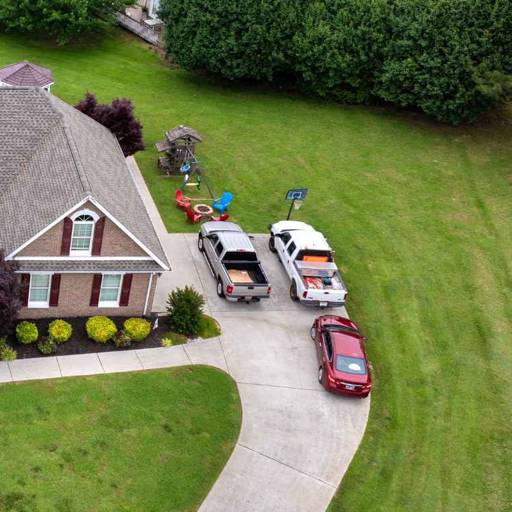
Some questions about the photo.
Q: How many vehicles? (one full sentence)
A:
My tally gives 3 vehicles in this view.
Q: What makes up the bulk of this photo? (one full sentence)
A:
The bulk of the photo consists of grass.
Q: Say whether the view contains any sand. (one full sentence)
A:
No, the scene doesn't show any sand.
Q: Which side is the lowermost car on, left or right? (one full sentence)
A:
The lowermost car appears in the right half of the scene.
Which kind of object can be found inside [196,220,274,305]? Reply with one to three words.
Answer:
truck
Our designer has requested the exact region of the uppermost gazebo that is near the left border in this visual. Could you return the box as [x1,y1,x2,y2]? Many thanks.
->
[0,57,54,93]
